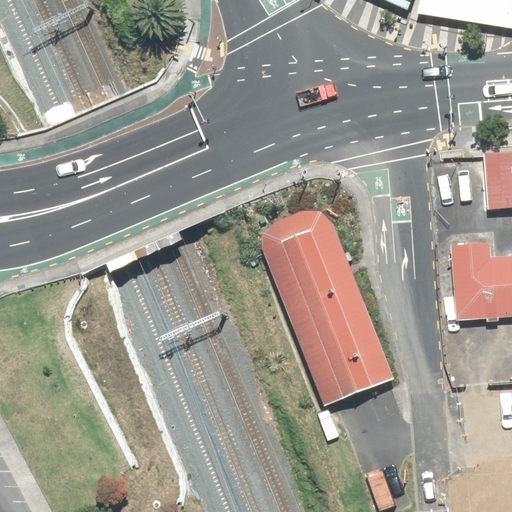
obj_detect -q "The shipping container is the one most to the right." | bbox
[367,468,398,512]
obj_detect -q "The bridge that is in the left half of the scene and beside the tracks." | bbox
[16,66,214,276]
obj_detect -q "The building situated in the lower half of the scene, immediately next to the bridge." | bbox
[262,211,394,406]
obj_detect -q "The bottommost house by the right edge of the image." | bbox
[450,242,512,320]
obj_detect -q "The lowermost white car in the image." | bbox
[421,472,436,502]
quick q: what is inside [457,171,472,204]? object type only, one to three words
vehicle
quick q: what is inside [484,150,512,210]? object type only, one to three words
building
